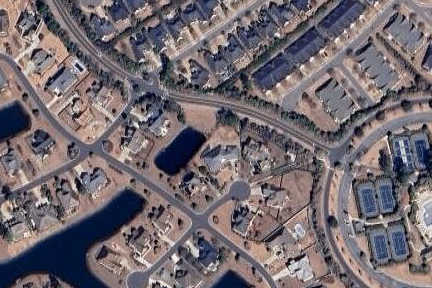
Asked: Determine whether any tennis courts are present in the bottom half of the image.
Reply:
Yes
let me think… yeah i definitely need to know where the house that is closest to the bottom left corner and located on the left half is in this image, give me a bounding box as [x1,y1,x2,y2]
[0,210,29,244]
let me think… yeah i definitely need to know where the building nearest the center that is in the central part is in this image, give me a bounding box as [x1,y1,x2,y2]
[200,139,237,169]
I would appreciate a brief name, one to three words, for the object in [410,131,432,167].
tennis court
